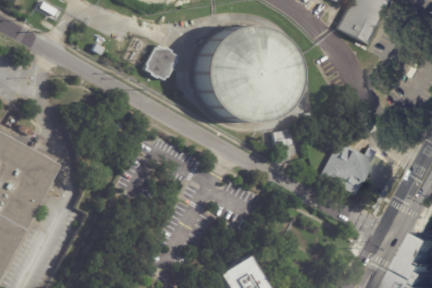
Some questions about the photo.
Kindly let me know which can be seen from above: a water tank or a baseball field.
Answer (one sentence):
I can see a water tank in this picture.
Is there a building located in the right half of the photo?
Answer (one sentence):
Yes, I can see a building in the right half of the photo.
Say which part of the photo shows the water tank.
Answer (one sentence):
The water tank is in the top part of the image.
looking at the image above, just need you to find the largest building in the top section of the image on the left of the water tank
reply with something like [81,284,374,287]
[142,46,176,80]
